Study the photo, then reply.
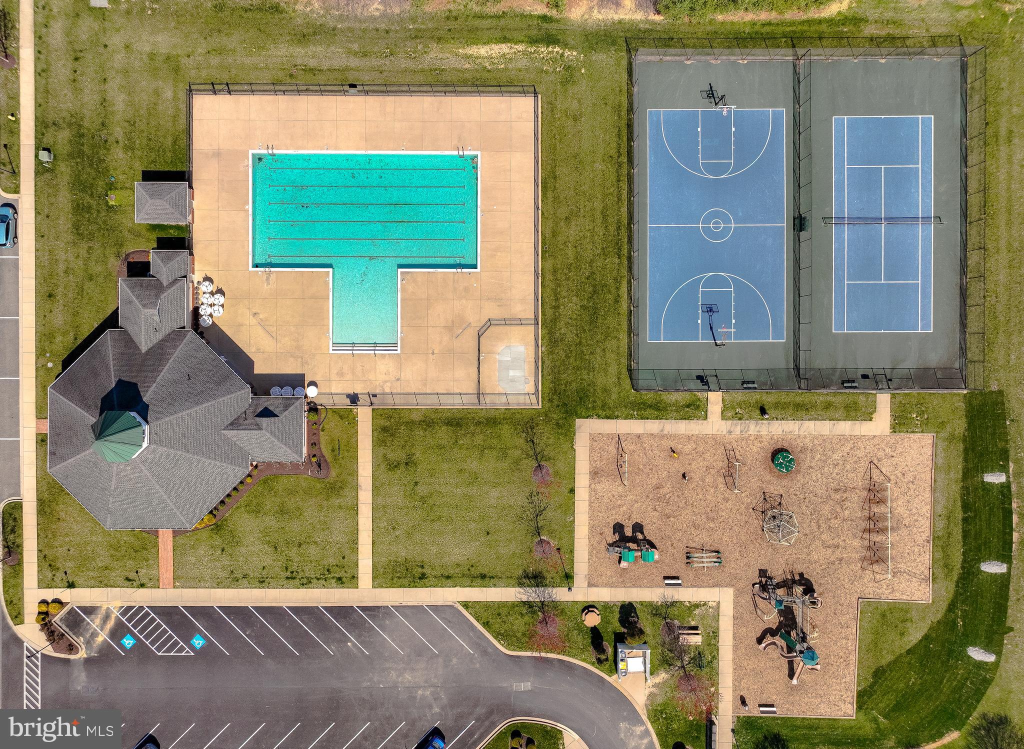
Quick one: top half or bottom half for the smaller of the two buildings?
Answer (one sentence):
The smaller of the two buildings is in the top half of the image.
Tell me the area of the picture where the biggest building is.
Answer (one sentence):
The biggest building appears toward the left of the photo.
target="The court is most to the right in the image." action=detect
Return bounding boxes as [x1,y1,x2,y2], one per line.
[800,60,966,390]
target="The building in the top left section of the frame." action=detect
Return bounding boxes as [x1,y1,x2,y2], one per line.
[134,181,194,224]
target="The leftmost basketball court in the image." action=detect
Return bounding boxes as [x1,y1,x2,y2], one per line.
[635,60,799,391]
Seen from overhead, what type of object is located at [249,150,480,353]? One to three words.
swimming pool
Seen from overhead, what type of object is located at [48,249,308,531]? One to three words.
building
